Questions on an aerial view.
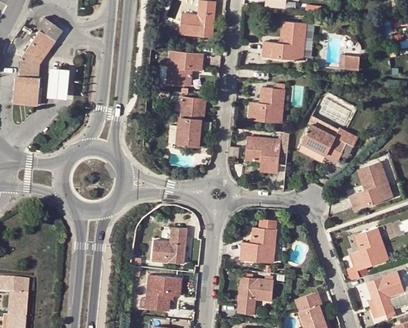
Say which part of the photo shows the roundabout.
left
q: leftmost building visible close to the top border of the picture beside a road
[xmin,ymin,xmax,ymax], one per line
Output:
[12,16,63,106]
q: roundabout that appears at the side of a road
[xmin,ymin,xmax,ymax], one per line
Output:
[66,138,122,221]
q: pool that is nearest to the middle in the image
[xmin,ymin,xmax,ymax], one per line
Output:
[168,153,196,168]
